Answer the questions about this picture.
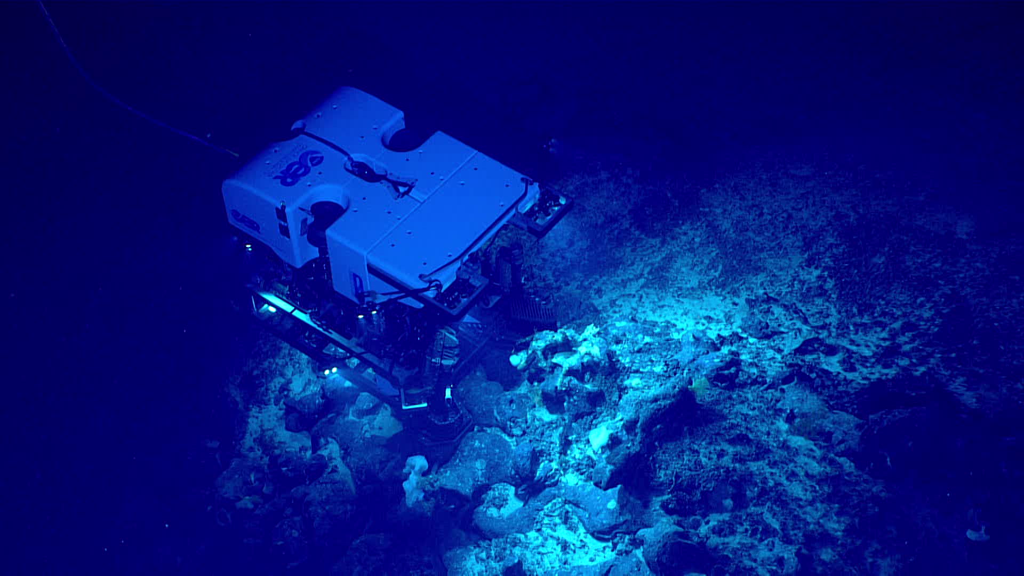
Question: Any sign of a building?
No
